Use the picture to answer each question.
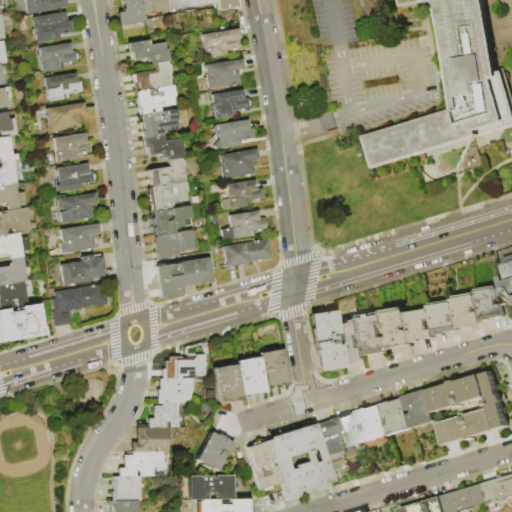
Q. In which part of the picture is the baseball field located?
bottom left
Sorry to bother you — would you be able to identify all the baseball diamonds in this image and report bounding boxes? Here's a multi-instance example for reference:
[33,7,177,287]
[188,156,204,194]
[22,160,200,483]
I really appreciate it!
[0,414,50,478]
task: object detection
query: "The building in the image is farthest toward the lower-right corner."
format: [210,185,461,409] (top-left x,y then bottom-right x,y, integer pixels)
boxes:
[479,474,512,504]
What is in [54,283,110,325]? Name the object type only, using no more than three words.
house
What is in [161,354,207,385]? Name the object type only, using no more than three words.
house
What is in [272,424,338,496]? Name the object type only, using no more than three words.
building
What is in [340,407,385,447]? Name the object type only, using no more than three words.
building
